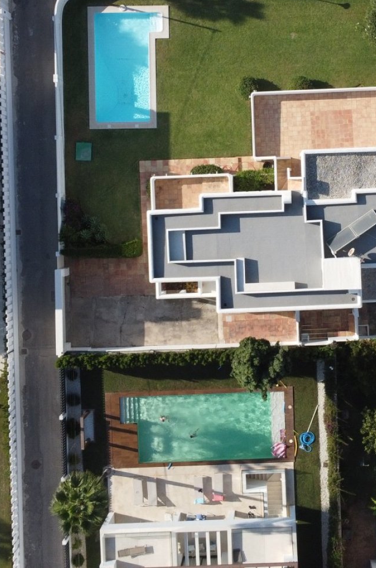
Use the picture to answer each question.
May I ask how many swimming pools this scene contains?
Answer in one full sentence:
My tally gives 2 swimming pools in this view.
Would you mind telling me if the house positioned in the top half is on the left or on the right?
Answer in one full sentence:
The house positioned in the top half appears in the right half of the scene.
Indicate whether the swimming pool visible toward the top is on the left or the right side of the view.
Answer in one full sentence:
The swimming pool visible toward the top appears in the left half of the scene.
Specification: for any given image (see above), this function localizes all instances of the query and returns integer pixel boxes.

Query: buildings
[148,88,376,314]
[100,467,299,568]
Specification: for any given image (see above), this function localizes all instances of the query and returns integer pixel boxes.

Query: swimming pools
[118,390,288,465]
[88,5,170,128]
